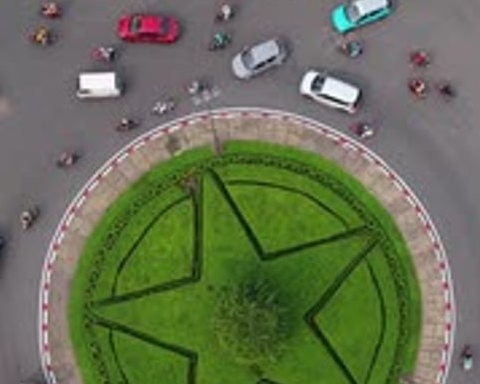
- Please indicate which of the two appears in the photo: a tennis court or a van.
van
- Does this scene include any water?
No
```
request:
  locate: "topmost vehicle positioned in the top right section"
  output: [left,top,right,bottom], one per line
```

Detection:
[331,0,395,35]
